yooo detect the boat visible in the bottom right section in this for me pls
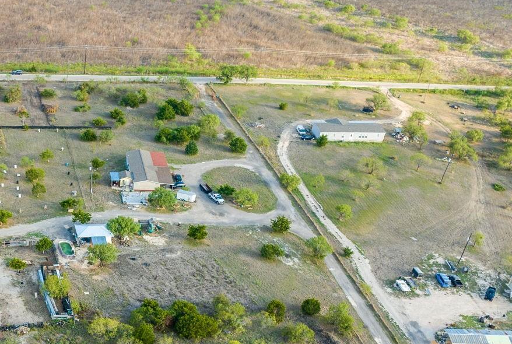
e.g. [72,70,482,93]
[392,278,413,292]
